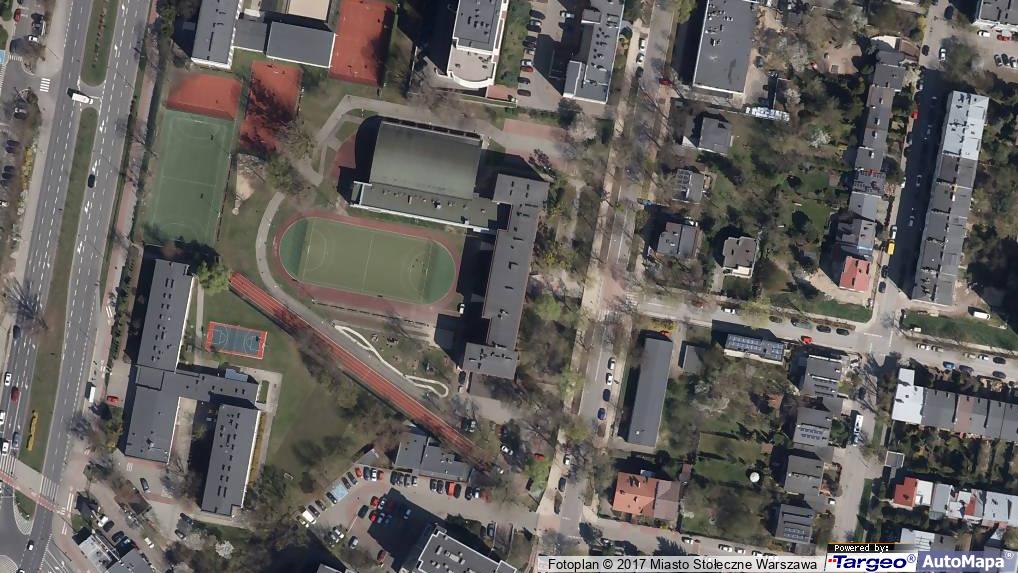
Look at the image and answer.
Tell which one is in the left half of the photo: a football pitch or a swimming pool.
football pitch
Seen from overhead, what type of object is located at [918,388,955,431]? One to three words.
house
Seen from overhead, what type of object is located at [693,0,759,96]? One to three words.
building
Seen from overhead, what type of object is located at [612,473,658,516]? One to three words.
house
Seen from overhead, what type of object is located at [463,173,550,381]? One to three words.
building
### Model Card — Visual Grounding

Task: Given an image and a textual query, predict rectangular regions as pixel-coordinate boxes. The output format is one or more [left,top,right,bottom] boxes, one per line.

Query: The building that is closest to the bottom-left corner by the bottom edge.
[79,535,117,573]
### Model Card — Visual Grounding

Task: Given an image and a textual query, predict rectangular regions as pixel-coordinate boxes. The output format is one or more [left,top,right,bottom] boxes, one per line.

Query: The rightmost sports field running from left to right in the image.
[295,220,437,302]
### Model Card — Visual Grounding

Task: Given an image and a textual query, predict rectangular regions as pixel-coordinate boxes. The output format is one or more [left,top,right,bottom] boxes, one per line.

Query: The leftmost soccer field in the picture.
[145,109,235,246]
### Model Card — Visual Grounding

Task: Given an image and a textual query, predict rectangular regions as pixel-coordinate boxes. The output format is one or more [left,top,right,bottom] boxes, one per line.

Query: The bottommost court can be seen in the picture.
[207,321,267,358]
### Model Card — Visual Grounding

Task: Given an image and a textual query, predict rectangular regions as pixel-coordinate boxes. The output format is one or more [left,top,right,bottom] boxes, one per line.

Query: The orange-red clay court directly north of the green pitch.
[167,73,241,119]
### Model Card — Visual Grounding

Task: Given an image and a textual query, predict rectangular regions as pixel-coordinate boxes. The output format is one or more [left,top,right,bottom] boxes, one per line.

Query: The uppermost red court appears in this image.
[329,0,397,87]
